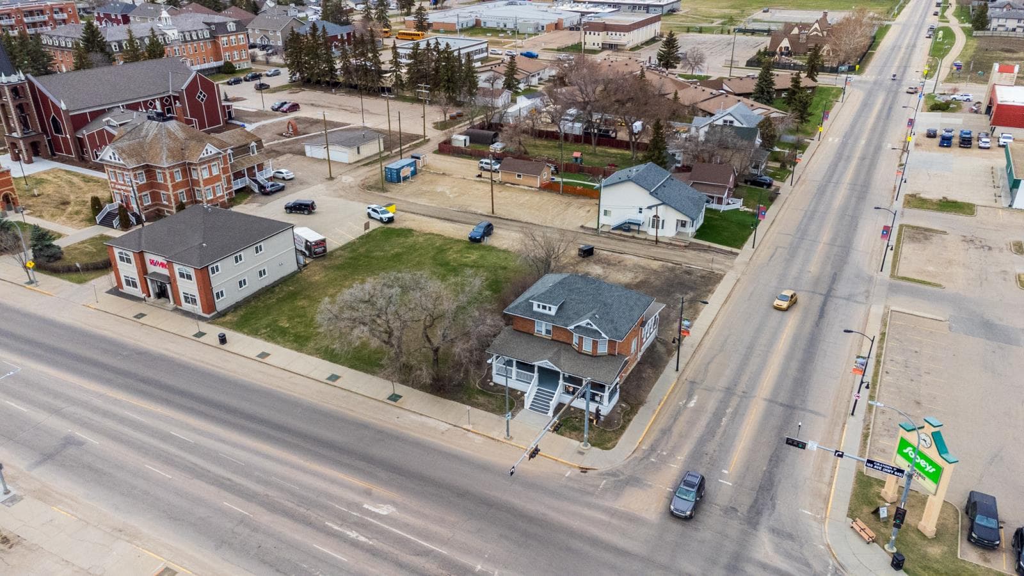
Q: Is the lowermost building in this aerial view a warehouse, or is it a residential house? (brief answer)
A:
residential house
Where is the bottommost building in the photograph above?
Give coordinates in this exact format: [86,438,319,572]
[482,271,675,420]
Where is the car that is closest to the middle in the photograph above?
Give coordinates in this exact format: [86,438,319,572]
[467,218,497,239]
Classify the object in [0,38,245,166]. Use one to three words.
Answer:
church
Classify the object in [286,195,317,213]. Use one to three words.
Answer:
car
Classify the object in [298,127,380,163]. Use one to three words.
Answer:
building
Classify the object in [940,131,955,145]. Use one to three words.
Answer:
vehicle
